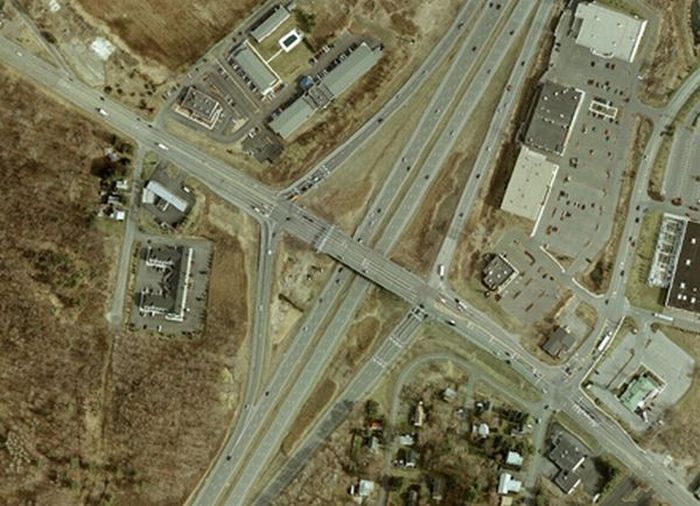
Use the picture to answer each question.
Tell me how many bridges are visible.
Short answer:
one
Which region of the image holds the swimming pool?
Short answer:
top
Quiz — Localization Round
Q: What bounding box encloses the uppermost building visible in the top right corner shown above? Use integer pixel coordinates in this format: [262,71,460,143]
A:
[574,1,644,63]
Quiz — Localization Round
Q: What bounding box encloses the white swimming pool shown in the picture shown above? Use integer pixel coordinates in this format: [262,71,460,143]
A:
[279,29,303,52]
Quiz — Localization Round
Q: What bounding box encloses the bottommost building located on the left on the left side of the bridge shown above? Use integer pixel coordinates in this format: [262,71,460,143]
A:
[139,247,193,320]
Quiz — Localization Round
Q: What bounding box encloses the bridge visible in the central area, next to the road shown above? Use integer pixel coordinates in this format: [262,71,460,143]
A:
[302,220,428,297]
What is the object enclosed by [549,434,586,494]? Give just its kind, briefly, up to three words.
building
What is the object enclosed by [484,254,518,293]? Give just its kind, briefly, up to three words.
building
